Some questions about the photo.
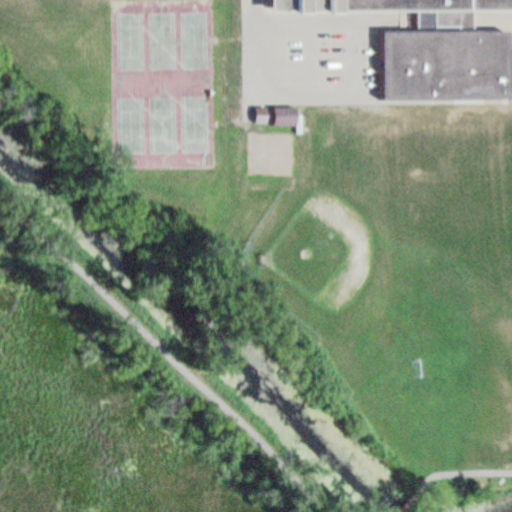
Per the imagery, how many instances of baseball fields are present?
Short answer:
1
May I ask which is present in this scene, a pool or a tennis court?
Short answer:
tennis court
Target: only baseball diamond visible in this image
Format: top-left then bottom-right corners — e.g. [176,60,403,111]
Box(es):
[260,195,370,310]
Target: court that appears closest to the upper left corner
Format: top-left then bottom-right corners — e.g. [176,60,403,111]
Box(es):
[116,13,146,71]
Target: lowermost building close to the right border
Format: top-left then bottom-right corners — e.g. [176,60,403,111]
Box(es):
[385,32,511,101]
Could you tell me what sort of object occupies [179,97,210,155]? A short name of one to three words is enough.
tennis court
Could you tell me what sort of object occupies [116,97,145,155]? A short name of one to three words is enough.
tennis court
